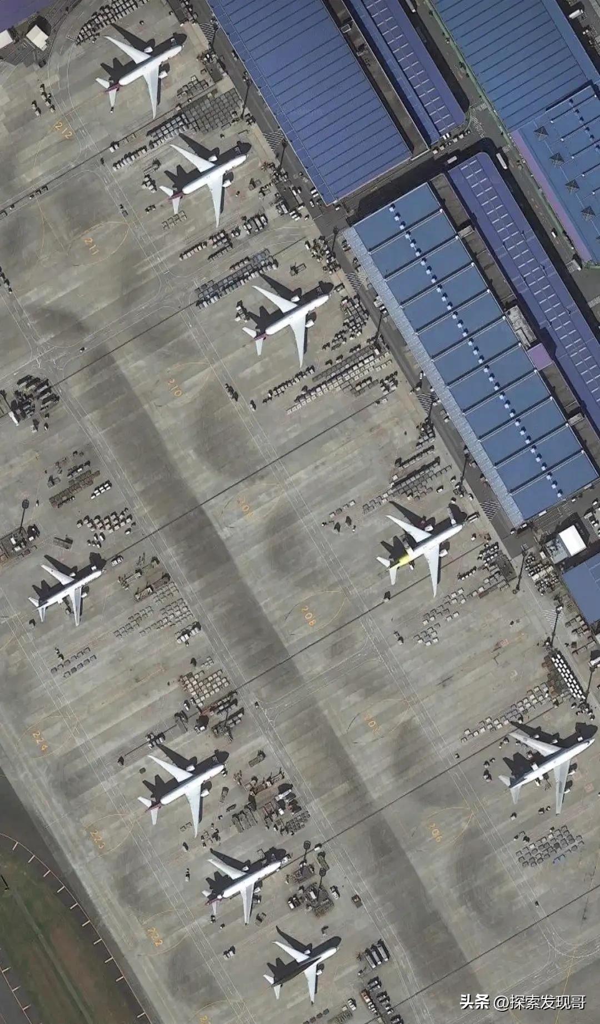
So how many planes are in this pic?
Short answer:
9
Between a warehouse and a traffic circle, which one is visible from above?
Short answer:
warehouse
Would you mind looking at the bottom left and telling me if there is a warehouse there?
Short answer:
No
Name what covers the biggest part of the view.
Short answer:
paved ground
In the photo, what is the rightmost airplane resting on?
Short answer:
apron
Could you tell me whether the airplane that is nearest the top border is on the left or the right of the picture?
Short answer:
left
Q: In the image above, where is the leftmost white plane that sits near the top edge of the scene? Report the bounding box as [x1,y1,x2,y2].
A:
[95,36,183,118]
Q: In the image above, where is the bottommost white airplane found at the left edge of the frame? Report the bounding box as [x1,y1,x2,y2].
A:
[28,565,102,625]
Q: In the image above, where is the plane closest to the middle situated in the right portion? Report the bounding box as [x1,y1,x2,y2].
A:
[376,516,464,597]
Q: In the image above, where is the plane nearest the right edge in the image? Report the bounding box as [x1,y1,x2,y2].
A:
[498,733,591,815]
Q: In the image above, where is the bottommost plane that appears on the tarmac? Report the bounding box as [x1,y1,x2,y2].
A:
[262,943,335,1004]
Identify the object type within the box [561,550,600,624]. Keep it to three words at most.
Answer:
building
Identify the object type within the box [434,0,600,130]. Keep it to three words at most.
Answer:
warehouse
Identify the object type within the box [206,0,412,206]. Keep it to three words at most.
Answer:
warehouse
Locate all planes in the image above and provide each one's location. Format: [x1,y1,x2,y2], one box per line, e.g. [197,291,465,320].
[95,36,183,118]
[376,516,464,597]
[243,285,331,367]
[28,565,102,625]
[498,733,591,815]
[159,144,247,227]
[199,859,279,926]
[262,943,335,1004]
[138,756,225,836]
